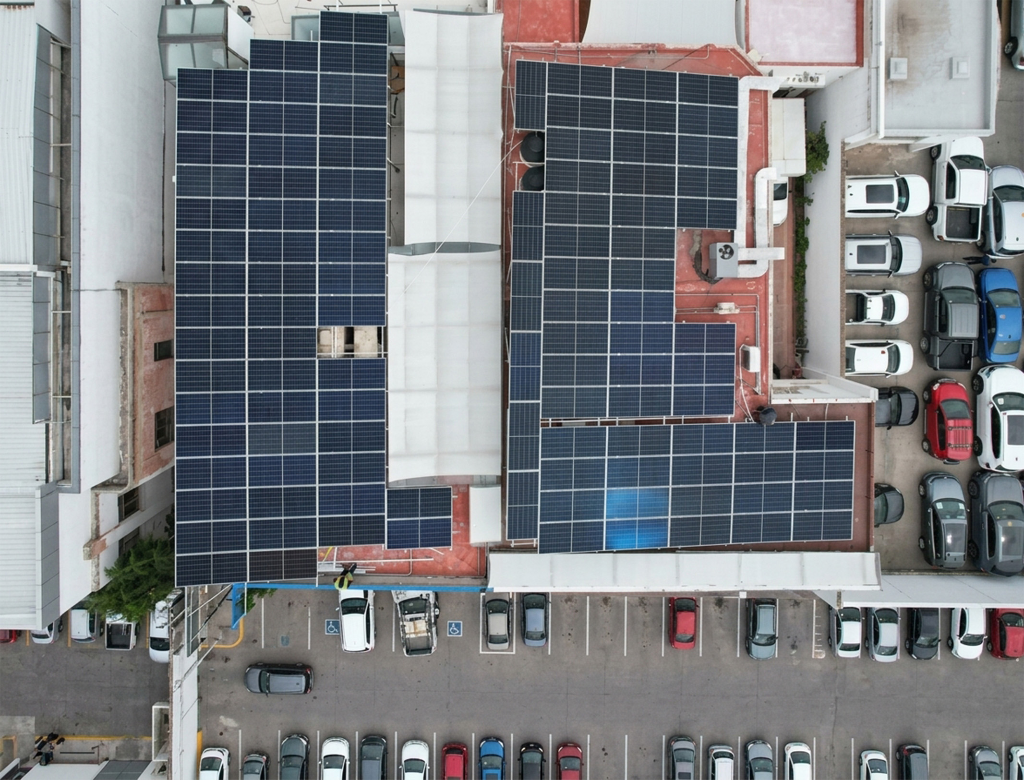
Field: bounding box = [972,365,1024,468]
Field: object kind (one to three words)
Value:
car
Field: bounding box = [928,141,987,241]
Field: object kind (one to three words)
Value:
truck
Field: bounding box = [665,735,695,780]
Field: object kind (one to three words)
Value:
car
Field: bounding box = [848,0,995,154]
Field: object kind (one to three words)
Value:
building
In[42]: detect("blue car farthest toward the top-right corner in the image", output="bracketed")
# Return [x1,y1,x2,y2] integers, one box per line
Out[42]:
[972,268,1024,361]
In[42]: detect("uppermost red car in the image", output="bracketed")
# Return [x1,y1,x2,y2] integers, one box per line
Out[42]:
[922,379,978,465]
